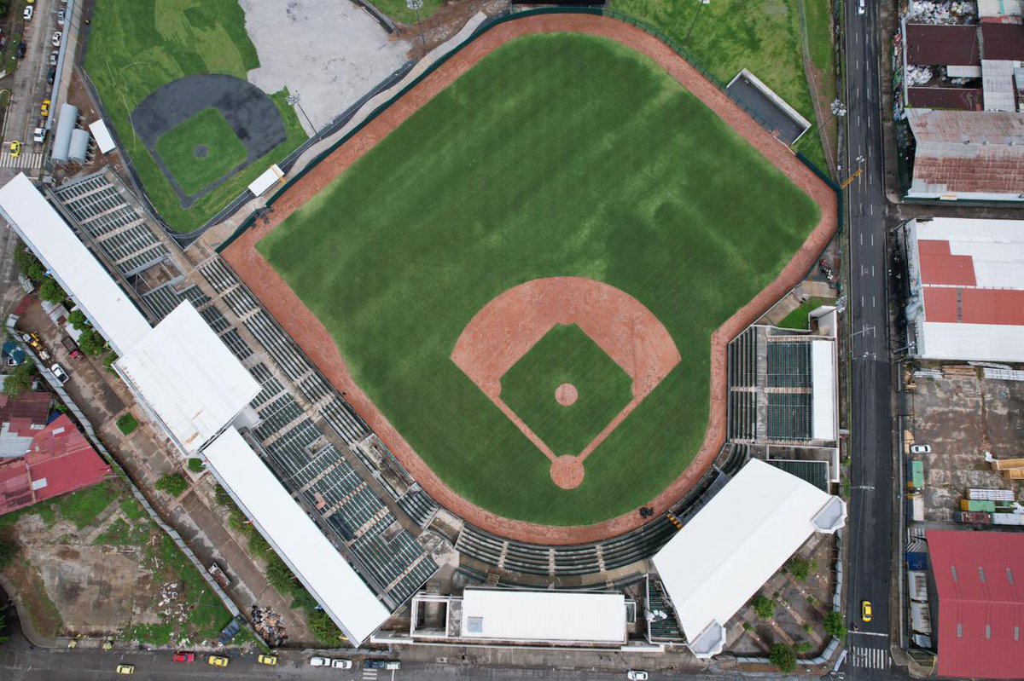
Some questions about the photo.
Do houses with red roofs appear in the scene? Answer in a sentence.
Yes, you can see a house with a red roof in this photo.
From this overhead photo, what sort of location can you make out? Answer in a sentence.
The area seen from above is a sports ground.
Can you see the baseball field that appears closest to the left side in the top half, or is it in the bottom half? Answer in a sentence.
The top half of the photo is where the baseball field that appears closest to the left side is.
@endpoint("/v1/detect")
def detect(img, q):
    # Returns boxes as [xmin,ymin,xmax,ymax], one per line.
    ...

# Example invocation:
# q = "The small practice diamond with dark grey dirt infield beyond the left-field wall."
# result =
[81,0,414,239]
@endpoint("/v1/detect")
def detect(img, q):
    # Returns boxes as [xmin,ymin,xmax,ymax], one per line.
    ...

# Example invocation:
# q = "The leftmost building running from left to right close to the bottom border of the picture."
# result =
[407,587,630,652]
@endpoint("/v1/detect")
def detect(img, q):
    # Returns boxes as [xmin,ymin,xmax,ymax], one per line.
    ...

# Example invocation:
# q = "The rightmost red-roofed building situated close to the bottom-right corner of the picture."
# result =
[915,524,1024,680]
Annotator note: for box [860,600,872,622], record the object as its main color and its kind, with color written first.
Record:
yellow vehicle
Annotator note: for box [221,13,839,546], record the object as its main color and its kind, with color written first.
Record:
green baseball field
